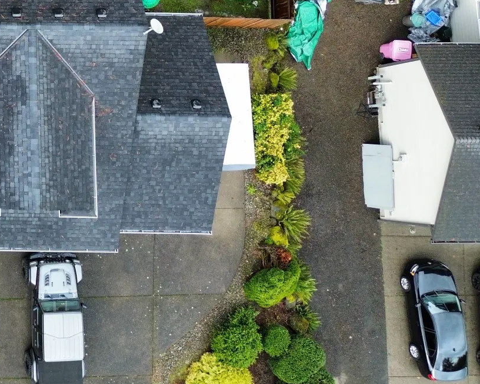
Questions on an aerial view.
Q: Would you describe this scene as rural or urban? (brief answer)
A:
urban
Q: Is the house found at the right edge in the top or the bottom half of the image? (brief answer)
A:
top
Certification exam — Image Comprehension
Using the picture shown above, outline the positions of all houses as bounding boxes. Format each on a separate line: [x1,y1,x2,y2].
[372,0,480,246]
[0,0,231,253]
